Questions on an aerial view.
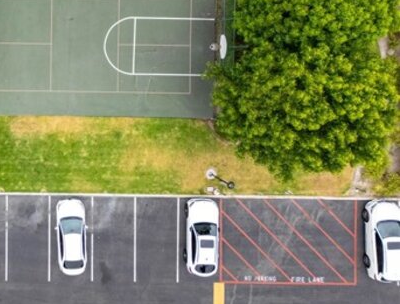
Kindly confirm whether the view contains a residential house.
No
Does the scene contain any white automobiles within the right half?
Yes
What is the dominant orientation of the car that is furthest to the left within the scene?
vertically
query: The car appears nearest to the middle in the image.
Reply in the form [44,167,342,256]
[183,198,224,278]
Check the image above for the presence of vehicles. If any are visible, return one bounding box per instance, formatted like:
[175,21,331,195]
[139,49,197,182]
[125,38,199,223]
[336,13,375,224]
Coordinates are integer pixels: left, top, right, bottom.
[361,196,400,283]
[183,198,224,278]
[53,197,90,279]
